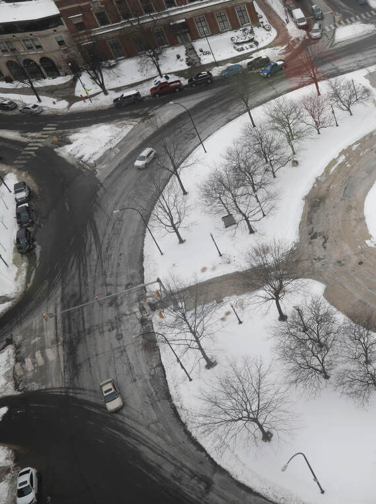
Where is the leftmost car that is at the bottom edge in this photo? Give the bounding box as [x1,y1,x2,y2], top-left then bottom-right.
[10,464,36,504]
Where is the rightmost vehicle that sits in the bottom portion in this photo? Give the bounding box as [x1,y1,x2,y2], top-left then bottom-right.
[96,377,122,411]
